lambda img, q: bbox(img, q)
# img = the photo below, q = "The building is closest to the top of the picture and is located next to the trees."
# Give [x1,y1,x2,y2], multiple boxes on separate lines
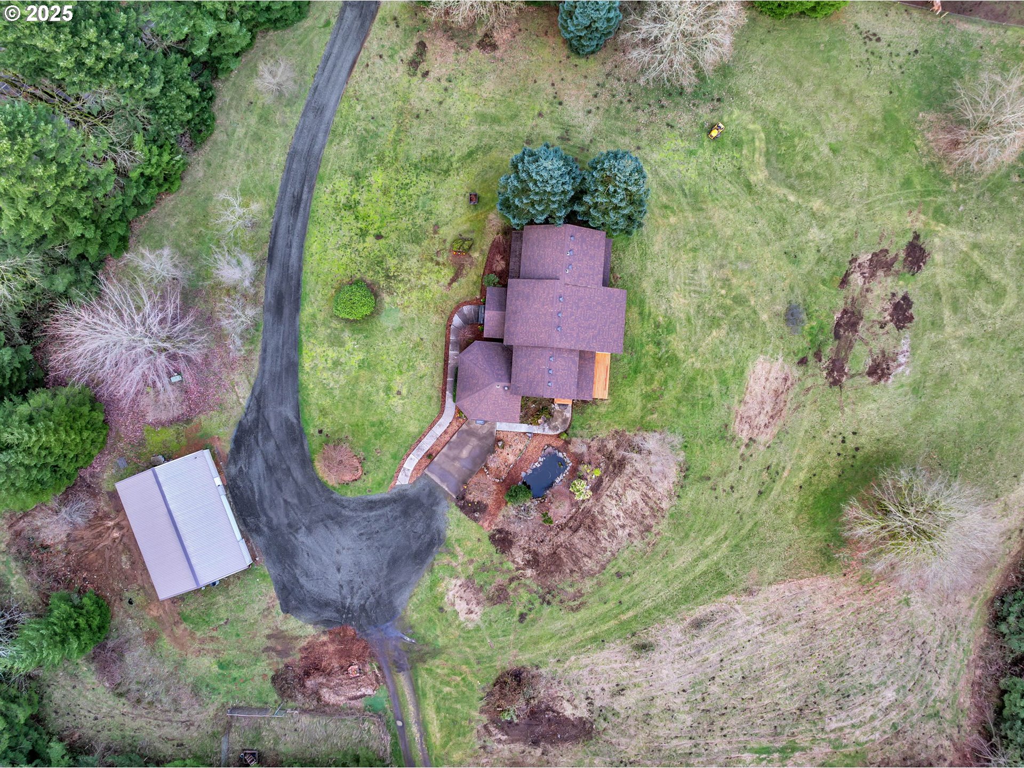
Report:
[455,223,627,425]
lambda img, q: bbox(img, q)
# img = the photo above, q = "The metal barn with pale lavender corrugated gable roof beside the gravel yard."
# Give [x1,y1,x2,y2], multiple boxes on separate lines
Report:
[115,450,251,600]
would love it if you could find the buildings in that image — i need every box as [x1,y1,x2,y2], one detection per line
[455,223,627,425]
[115,450,251,600]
